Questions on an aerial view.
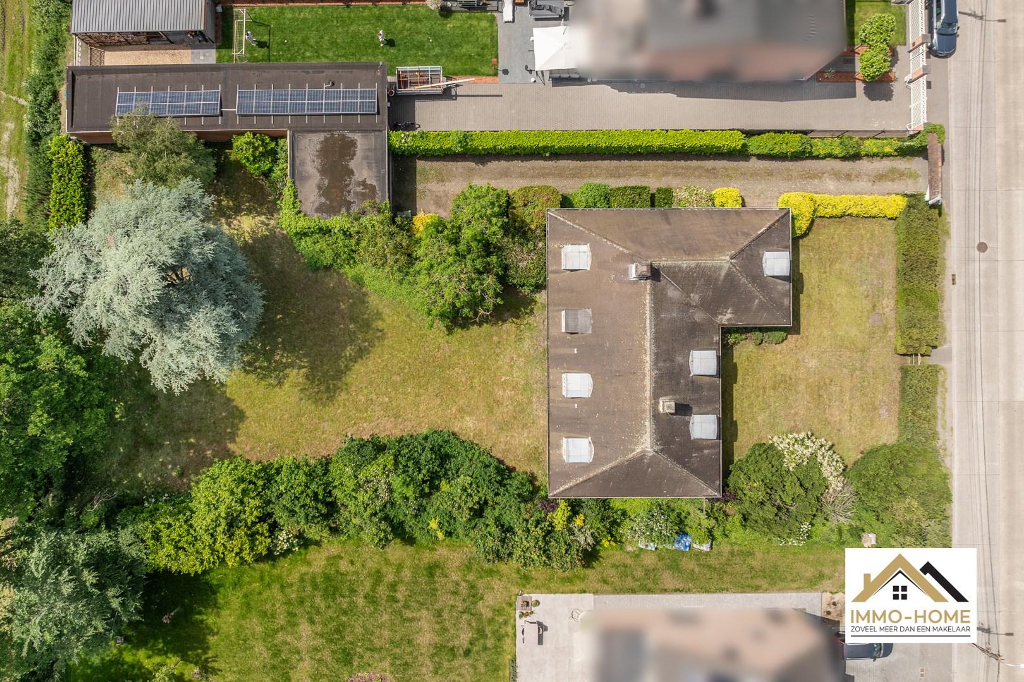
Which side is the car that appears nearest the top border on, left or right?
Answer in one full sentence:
The car that appears nearest the top border appears in the right half of the scene.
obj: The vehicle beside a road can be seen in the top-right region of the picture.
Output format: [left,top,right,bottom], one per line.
[927,0,962,60]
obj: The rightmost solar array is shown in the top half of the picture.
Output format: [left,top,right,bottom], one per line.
[236,83,379,124]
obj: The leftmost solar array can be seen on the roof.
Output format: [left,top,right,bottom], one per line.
[116,84,224,125]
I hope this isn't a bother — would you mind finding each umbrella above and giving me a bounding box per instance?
[533,6,583,71]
